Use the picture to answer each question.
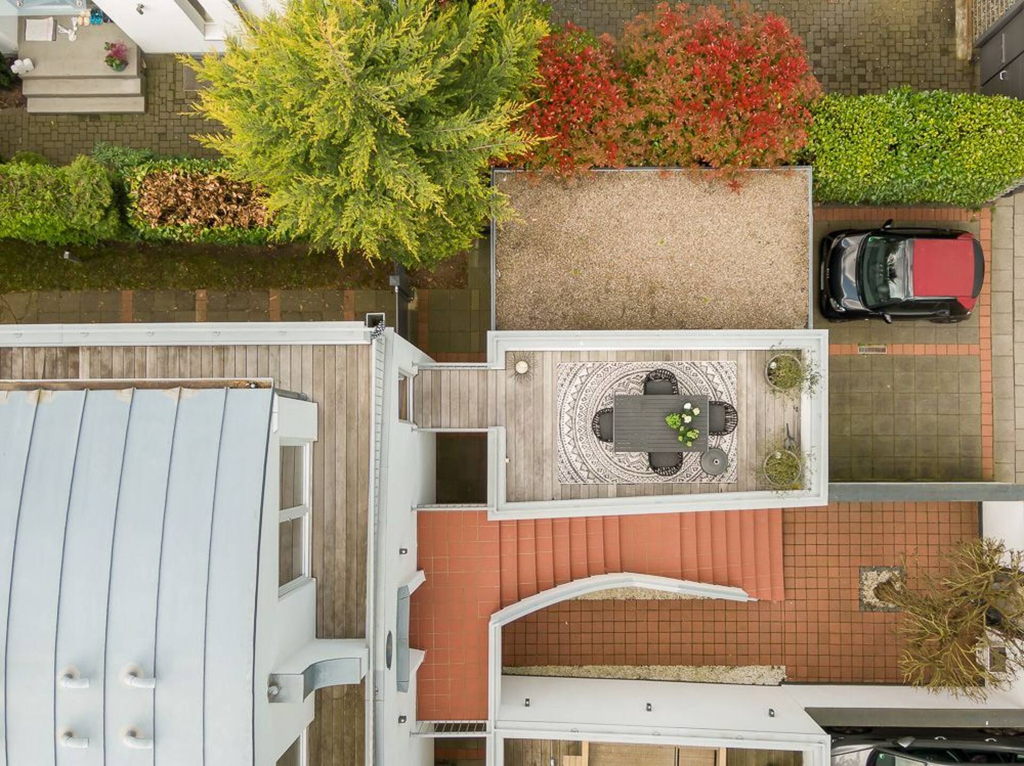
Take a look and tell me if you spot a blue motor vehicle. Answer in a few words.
No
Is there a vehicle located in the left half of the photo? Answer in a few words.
No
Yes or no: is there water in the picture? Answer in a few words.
No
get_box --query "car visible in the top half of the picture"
[819,215,984,329]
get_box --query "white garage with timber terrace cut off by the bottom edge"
[488,678,831,766]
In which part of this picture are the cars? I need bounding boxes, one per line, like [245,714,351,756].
[824,729,1024,766]
[819,215,984,329]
